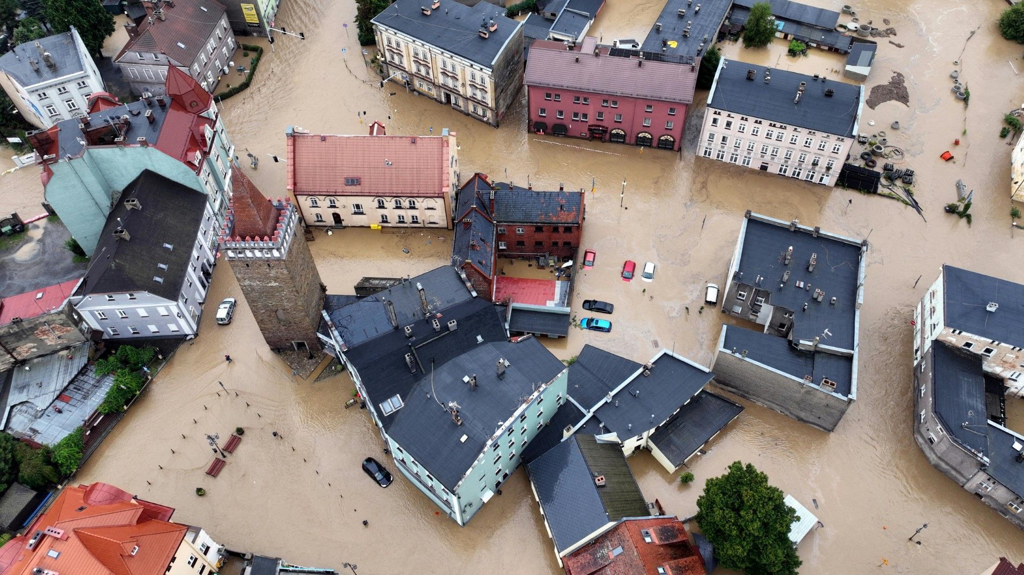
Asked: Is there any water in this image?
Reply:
Yes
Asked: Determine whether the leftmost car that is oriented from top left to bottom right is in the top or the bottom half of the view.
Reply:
bottom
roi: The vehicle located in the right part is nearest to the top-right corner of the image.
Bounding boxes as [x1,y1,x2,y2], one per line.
[615,35,641,49]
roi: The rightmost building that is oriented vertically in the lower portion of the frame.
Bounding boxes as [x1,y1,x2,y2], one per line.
[913,265,1024,541]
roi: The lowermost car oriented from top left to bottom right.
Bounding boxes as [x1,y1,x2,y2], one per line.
[359,453,393,488]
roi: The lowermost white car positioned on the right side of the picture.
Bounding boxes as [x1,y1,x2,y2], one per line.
[705,283,720,306]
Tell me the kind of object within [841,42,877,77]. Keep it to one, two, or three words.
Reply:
shed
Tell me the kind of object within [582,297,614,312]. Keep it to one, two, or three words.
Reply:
car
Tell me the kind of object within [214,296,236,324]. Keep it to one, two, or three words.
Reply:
car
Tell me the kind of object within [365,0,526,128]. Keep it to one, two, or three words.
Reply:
building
